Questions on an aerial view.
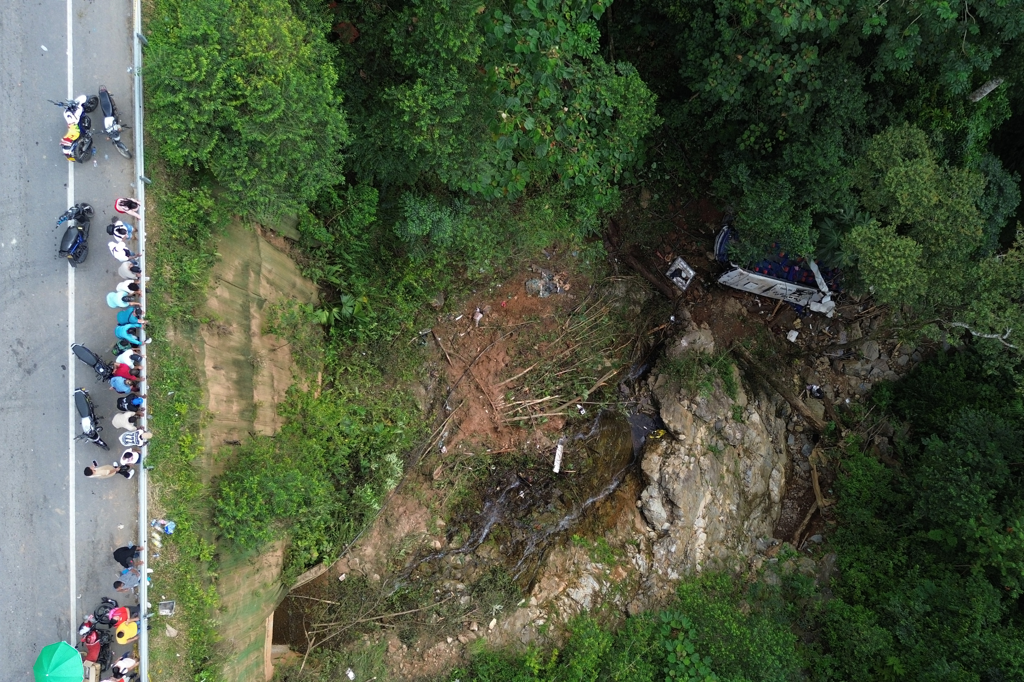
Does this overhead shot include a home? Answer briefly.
No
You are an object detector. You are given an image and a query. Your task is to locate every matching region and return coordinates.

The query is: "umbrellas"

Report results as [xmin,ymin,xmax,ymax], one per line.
[32,639,86,682]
